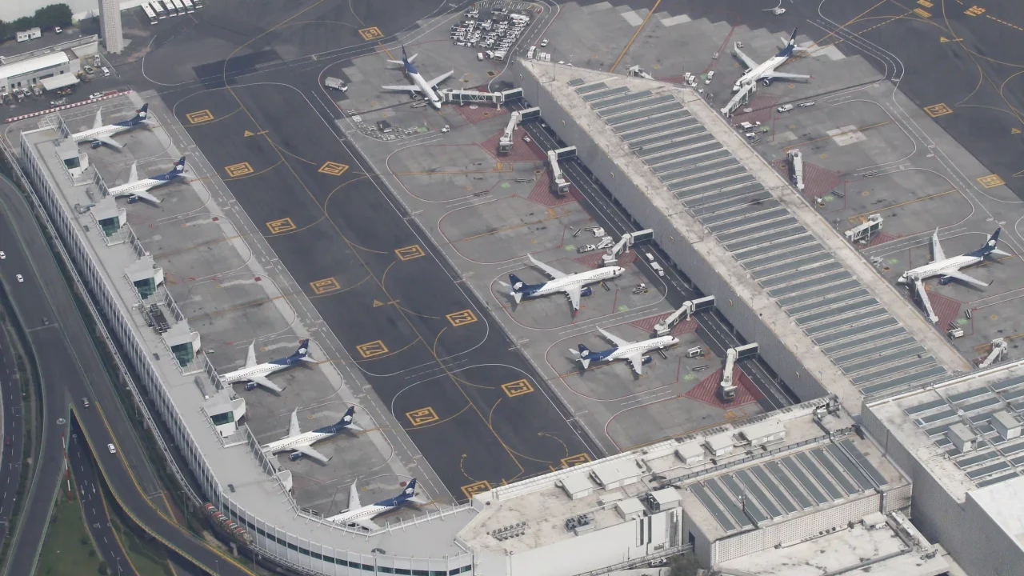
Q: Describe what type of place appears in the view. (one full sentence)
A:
This image shows an airport.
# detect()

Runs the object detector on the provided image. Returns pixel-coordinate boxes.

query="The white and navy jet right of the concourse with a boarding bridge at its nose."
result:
[898,226,1013,285]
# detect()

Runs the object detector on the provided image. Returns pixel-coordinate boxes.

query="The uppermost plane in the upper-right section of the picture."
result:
[732,28,813,91]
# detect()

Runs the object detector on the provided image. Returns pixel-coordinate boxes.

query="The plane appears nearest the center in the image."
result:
[499,251,625,309]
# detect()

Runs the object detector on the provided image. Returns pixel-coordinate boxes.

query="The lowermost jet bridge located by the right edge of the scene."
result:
[974,338,1005,371]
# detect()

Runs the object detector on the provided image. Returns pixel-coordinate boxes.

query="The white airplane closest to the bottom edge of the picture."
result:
[323,477,428,531]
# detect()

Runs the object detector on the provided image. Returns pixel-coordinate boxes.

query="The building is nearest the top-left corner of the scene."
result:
[14,25,41,42]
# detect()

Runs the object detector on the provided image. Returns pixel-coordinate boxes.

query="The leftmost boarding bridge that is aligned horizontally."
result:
[438,88,524,117]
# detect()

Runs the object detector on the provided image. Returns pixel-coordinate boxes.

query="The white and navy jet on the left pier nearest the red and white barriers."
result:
[66,104,157,149]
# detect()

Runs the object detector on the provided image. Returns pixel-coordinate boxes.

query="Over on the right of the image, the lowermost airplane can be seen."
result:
[569,325,679,374]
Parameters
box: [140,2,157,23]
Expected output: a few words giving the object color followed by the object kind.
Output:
white vehicle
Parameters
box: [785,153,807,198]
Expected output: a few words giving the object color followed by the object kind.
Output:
white jet bridge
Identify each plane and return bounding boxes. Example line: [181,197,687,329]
[260,404,365,461]
[499,251,625,309]
[379,47,453,109]
[569,325,679,374]
[66,104,157,149]
[323,477,428,531]
[898,226,1013,285]
[732,28,813,91]
[217,336,319,390]
[102,157,194,204]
